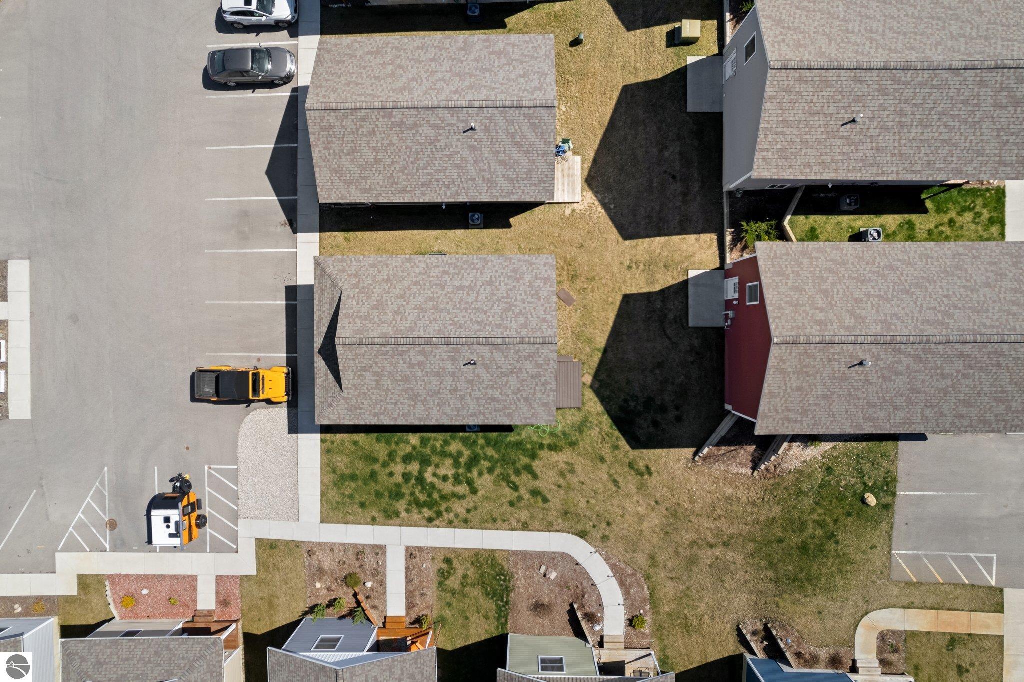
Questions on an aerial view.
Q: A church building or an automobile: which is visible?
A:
automobile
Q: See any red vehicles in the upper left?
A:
No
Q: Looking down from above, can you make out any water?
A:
No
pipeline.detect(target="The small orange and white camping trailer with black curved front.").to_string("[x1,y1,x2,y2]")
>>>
[149,472,205,548]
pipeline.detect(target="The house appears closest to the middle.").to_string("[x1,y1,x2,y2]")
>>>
[314,255,559,424]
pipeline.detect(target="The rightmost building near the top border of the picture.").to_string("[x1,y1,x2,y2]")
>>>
[721,0,1024,196]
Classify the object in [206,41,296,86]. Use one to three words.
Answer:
car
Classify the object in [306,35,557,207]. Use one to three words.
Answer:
house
